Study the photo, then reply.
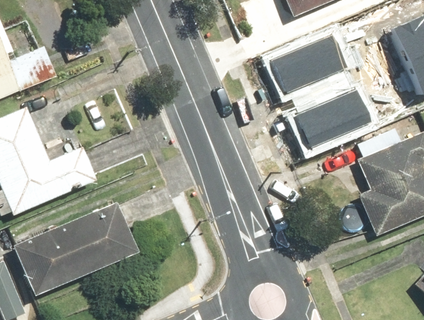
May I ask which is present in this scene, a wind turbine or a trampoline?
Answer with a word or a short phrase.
trampoline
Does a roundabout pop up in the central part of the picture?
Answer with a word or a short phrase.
No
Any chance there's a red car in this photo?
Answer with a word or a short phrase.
Yes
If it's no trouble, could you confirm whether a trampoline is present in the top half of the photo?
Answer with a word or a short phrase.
No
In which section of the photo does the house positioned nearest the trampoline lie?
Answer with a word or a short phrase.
right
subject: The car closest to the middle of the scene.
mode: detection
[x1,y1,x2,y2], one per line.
[212,86,234,118]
